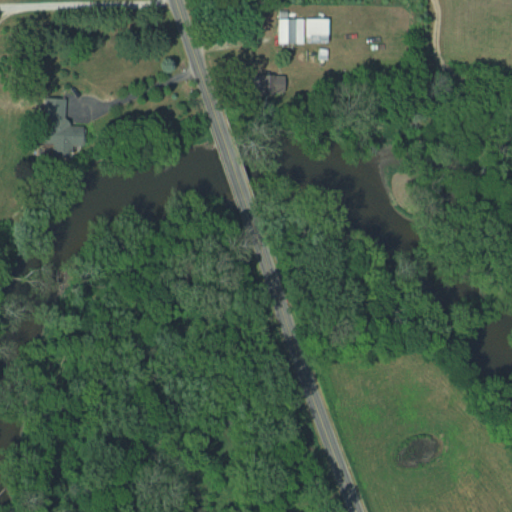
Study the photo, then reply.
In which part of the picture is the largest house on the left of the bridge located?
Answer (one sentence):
You can find the largest house on the left of the bridge in the top left area of the picture.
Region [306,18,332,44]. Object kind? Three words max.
building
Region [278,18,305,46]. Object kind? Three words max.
barn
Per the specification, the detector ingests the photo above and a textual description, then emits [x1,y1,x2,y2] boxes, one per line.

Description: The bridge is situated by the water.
[210,126,260,217]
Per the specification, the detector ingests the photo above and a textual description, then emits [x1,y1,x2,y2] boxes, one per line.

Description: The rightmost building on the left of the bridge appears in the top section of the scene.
[48,98,84,154]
